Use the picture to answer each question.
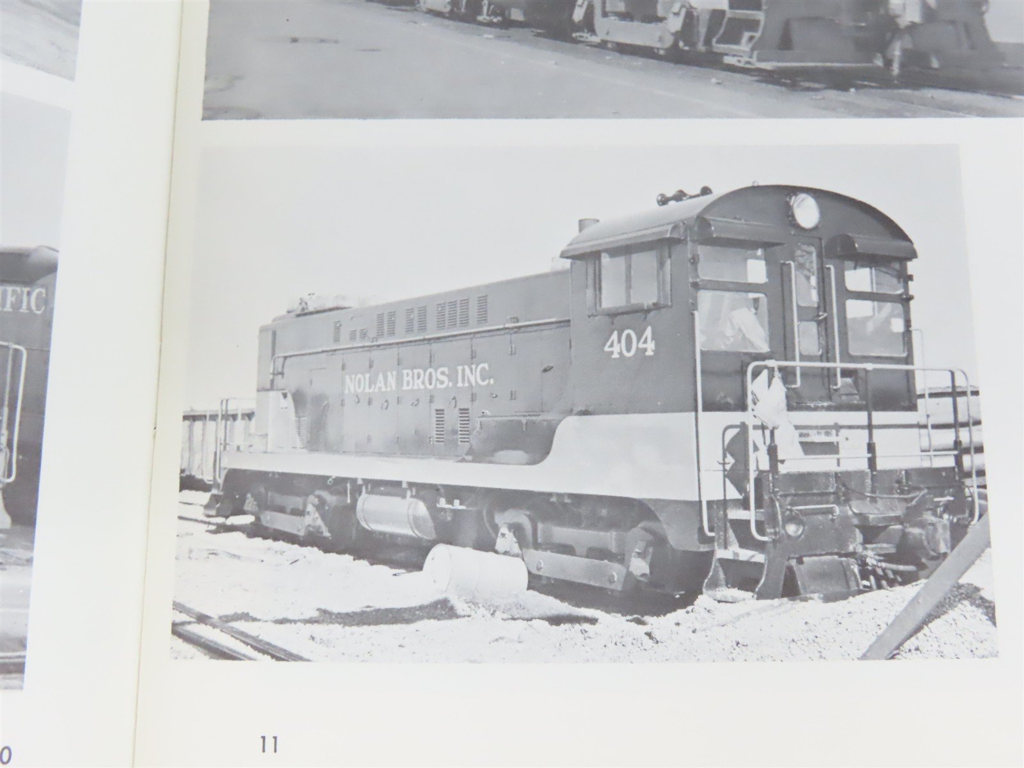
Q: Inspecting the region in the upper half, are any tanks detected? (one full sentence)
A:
No, no tank appears in the upper half.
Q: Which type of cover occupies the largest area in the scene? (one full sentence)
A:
What you mostly see from above here is buildings.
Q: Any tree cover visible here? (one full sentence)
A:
No, the scene doesn't show any tree cover.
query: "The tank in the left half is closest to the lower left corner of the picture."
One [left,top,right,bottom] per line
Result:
[356,495,436,540]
